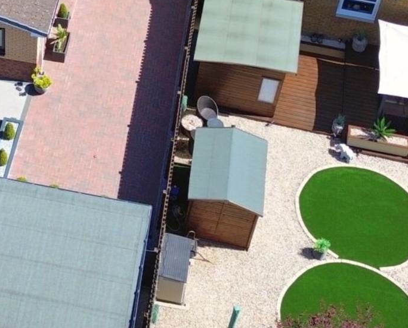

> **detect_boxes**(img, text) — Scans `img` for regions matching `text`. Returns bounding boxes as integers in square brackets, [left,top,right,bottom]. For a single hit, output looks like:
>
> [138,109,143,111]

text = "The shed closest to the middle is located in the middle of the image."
[186,120,268,245]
